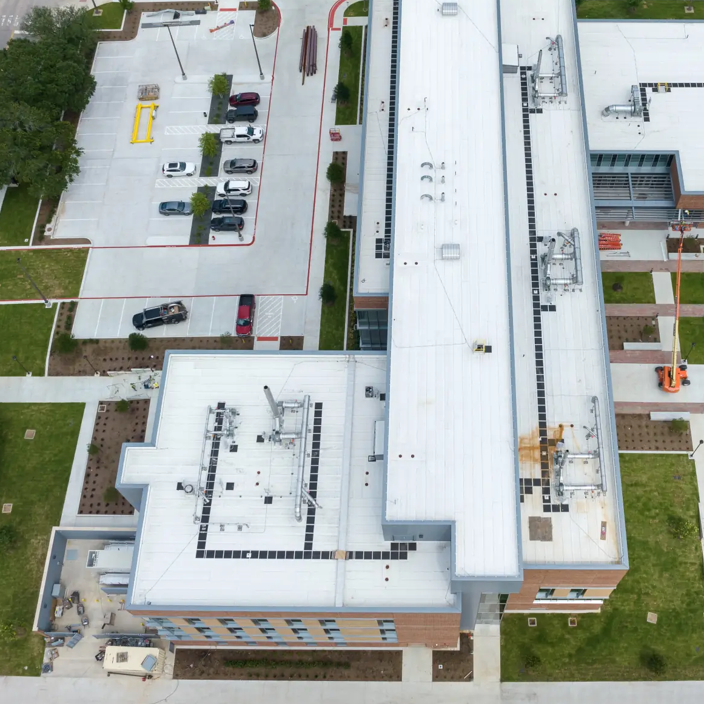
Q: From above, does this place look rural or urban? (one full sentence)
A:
The area shown here is urban.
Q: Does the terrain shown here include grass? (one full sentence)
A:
Yes, some grass is visible.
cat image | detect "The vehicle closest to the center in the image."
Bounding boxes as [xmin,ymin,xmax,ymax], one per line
[235,292,255,337]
